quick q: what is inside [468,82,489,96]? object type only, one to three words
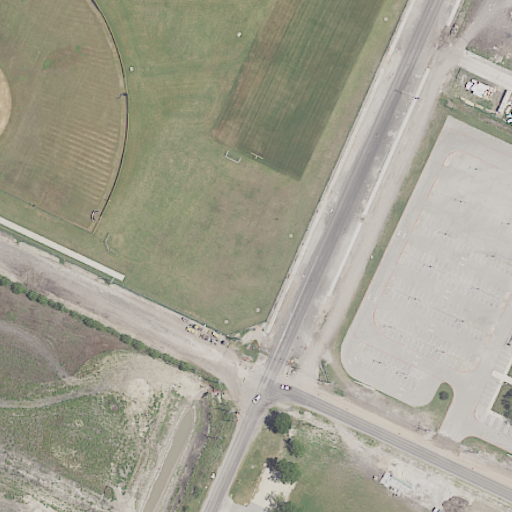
vehicle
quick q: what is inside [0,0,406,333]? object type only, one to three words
sports field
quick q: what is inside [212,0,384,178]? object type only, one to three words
sports field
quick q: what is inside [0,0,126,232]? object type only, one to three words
baseball field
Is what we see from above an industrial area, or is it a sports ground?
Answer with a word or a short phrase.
sports ground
